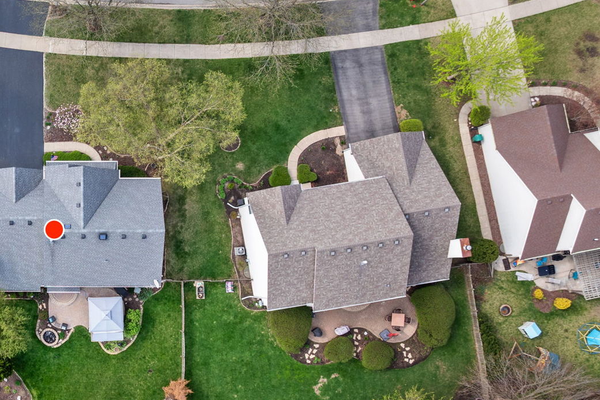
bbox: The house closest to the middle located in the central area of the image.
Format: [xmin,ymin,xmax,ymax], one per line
[227,129,472,312]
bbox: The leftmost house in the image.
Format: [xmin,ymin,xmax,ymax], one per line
[0,159,165,295]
